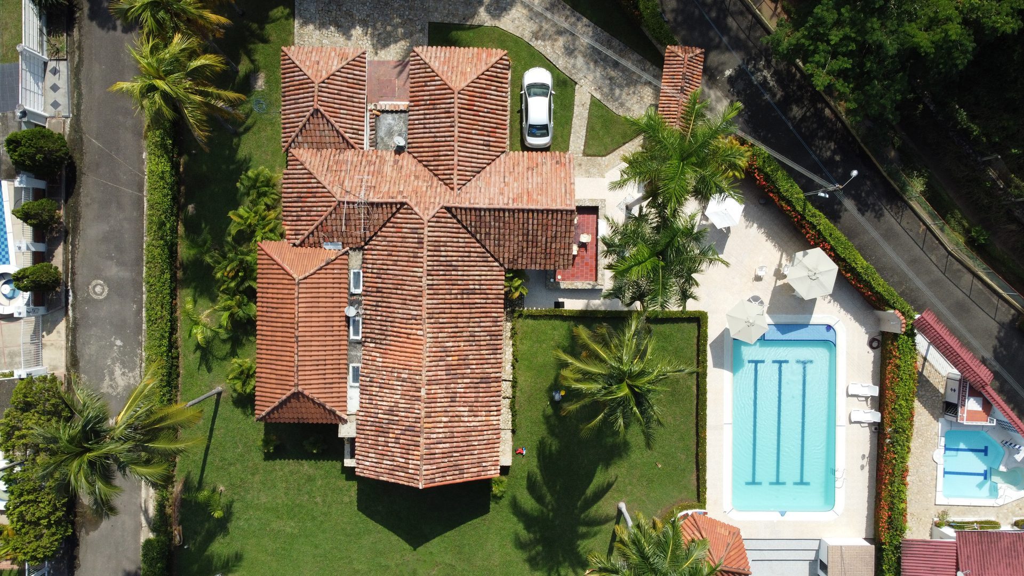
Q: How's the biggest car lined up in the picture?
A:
up and down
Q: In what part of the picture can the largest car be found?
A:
top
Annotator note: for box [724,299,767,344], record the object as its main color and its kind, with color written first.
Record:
white umbrella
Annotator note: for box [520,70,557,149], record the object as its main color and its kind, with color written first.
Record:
white car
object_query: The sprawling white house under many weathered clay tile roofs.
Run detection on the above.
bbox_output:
[251,43,577,491]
